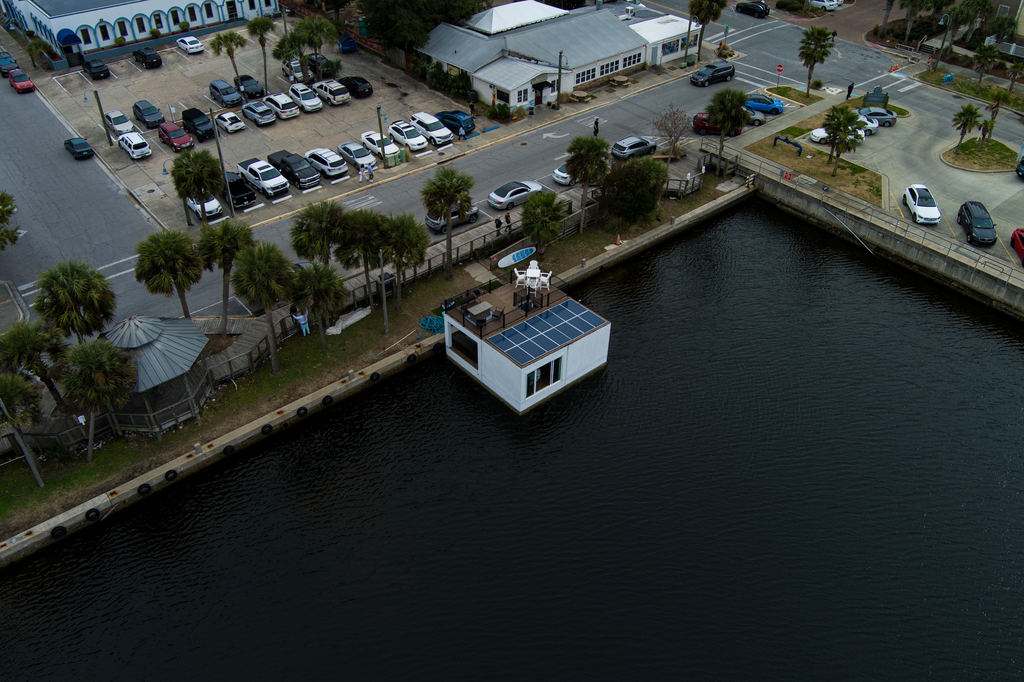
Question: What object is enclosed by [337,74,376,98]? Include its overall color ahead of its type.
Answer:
black car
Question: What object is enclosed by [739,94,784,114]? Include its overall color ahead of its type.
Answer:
blue car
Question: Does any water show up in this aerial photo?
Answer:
Yes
